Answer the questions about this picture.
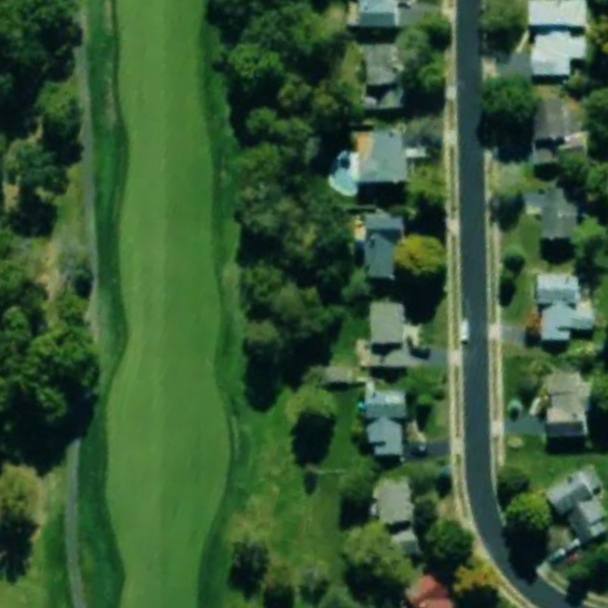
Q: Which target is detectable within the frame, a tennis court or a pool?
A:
pool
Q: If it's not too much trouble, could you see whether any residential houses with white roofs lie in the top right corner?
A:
Yes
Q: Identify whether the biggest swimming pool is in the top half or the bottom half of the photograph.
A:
top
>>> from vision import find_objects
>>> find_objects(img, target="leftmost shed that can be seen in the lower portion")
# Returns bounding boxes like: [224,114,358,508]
[327,366,353,384]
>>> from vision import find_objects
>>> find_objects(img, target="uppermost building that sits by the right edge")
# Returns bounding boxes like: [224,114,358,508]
[529,0,588,77]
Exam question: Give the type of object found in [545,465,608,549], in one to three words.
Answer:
house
